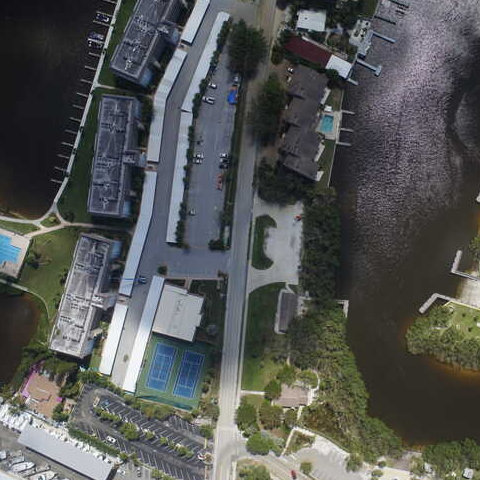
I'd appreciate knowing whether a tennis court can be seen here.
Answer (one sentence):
Yes, the image includes a tennis court.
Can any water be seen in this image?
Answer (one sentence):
Yes, water shows up in the scene.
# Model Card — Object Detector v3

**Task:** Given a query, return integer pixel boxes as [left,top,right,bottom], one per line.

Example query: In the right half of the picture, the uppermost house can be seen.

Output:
[298,9,327,34]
